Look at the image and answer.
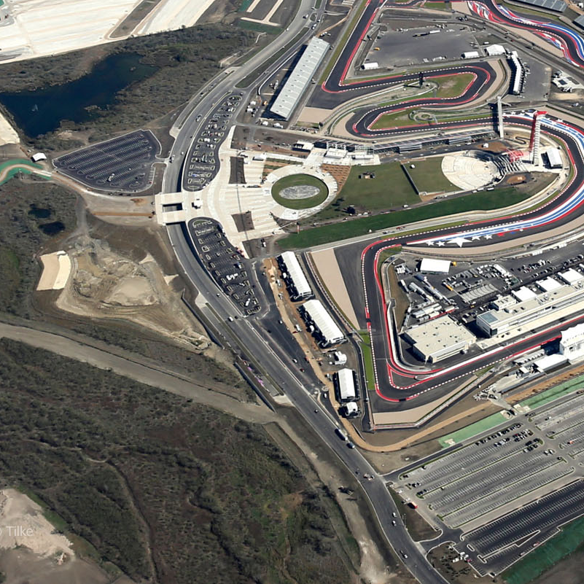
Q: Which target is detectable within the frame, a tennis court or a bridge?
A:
bridge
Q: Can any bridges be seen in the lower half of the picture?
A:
No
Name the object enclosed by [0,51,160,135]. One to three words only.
pond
